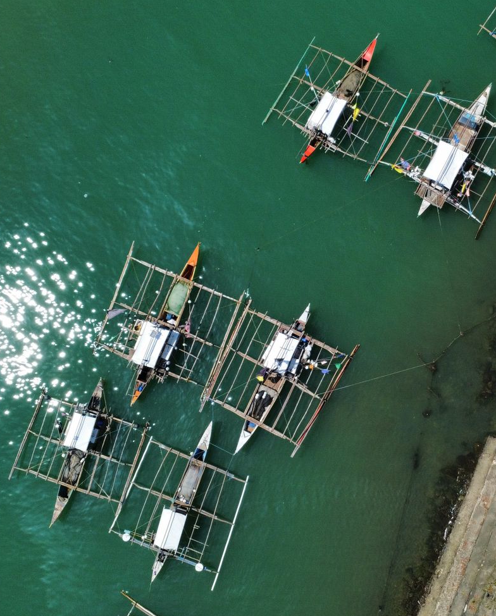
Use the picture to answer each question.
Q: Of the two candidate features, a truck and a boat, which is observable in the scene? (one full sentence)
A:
This aerial view contains a boat.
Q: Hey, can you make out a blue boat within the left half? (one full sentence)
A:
No, there's no blue boat to be seen within the left half.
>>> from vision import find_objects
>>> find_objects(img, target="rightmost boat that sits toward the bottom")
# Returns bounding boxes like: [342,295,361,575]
[199,300,360,457]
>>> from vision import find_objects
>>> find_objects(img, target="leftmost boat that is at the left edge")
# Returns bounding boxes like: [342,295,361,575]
[7,378,149,528]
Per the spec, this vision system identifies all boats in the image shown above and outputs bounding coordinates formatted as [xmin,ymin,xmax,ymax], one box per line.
[93,241,244,406]
[369,79,496,238]
[108,421,249,592]
[263,36,412,180]
[199,300,360,457]
[7,378,149,528]
[120,592,154,616]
